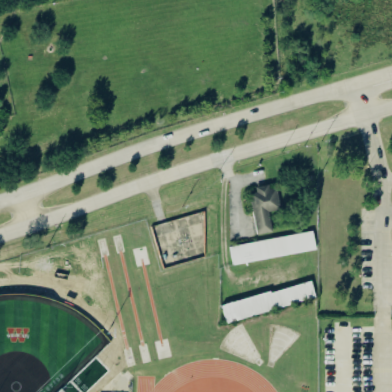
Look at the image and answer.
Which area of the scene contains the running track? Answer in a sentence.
The running track is located in the bottom region of the scene.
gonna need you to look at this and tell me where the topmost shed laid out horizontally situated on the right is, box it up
[229,231,317,265]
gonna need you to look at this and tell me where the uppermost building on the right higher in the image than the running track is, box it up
[250,182,278,235]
